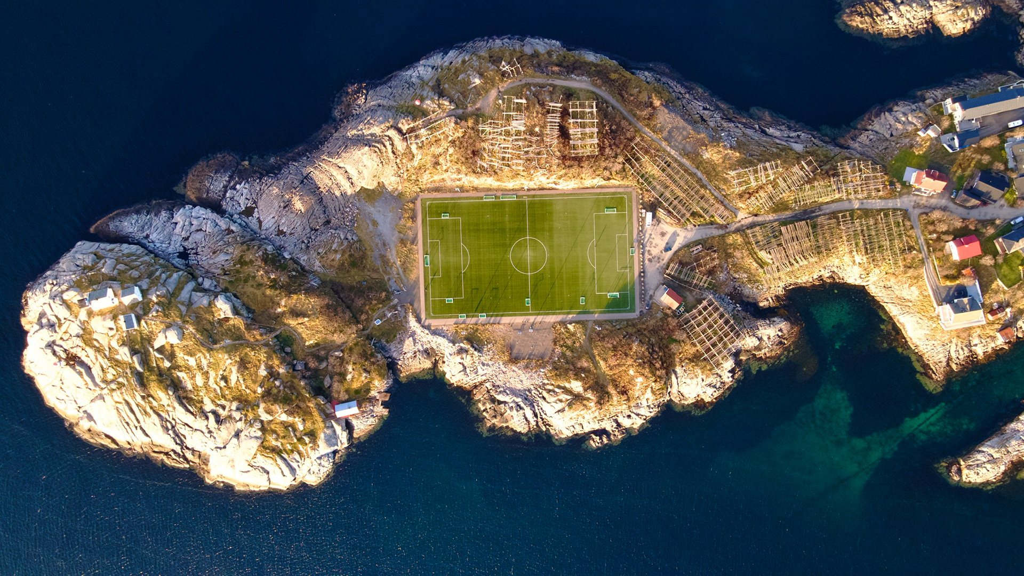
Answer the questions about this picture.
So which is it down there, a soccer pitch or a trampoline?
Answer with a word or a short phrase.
soccer pitch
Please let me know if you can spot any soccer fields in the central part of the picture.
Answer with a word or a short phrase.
Yes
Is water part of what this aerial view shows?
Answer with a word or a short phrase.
Yes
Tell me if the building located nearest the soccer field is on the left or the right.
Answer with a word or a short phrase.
right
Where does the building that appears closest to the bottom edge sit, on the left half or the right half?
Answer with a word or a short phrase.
left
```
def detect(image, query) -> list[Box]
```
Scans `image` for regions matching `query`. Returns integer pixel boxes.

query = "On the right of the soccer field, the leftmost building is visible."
[659,287,684,311]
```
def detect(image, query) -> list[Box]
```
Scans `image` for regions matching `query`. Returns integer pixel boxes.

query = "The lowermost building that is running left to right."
[333,398,383,418]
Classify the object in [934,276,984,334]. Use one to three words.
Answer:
house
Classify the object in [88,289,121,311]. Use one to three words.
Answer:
house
